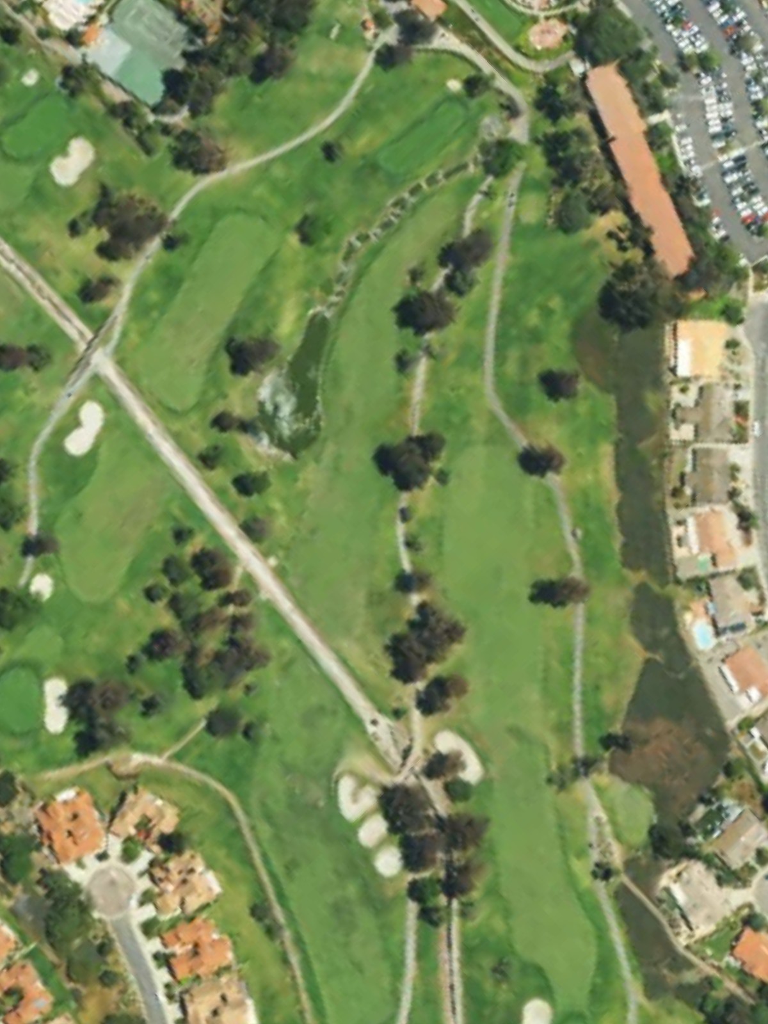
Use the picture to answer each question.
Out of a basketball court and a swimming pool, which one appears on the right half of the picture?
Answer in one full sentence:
You can see a swimming pool on the right half of the picture.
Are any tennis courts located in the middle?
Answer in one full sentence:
No, looking in the middle, there is no tennis court.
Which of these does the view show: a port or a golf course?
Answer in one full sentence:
This looks like a golf course.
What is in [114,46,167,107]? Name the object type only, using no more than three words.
tennis court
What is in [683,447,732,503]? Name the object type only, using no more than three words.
house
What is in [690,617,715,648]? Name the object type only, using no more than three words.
swimming pool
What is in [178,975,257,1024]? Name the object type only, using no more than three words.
house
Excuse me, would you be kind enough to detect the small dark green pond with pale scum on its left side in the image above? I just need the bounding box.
[256,313,333,459]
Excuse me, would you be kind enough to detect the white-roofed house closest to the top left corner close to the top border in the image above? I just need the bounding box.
[45,0,99,32]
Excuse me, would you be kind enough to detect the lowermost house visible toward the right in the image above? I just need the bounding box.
[727,926,768,988]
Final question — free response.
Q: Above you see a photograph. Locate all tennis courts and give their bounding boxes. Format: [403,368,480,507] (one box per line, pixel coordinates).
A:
[114,46,167,107]
[112,0,189,72]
